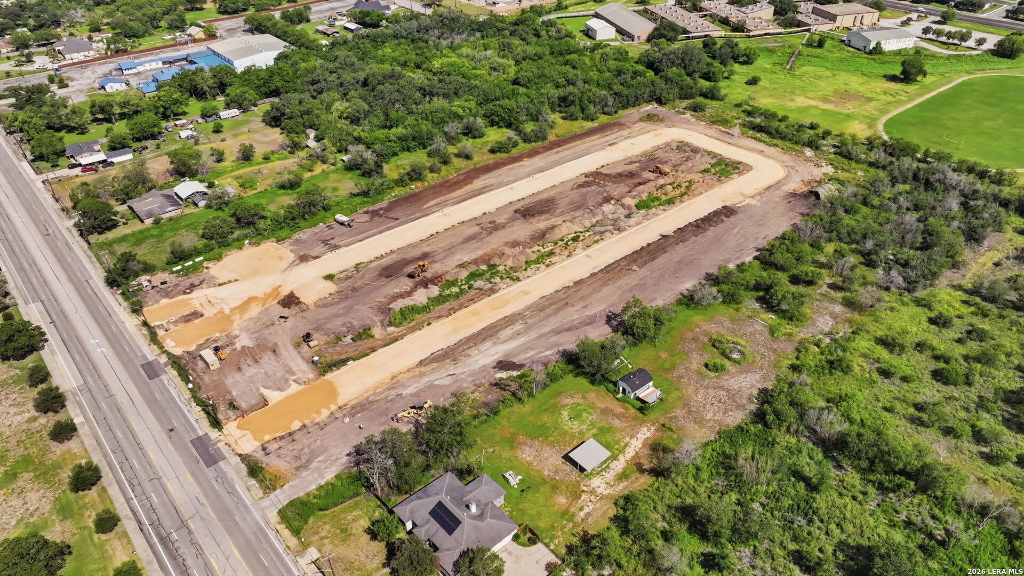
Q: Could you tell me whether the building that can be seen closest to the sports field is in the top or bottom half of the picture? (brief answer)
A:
top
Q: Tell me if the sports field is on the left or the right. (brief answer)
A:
right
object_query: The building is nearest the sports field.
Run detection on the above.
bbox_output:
[842,28,921,52]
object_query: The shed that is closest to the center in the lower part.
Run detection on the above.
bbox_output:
[618,368,653,399]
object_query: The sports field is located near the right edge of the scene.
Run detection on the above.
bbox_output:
[887,77,1024,166]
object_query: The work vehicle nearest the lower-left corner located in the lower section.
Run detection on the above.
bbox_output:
[210,343,228,361]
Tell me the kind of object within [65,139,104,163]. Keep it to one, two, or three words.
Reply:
house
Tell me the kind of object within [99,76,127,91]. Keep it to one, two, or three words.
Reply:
house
